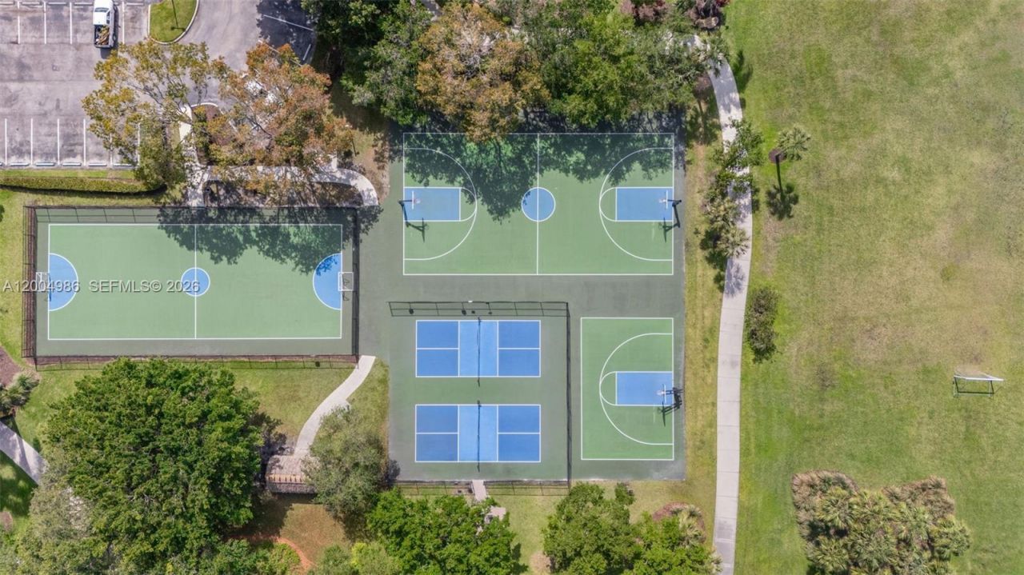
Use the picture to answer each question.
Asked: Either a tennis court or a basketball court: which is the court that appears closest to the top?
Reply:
basketball court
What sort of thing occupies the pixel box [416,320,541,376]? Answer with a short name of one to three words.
sports court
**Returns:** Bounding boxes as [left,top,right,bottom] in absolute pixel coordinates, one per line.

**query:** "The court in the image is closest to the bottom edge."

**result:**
[416,404,541,462]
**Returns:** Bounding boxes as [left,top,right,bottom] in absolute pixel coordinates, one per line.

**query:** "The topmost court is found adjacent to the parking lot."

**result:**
[403,133,673,274]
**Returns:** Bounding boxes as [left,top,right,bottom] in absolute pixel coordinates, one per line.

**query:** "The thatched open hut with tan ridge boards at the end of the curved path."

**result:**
[262,452,325,497]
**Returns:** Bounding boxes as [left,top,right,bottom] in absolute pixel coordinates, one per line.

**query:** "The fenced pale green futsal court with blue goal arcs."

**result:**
[48,224,342,339]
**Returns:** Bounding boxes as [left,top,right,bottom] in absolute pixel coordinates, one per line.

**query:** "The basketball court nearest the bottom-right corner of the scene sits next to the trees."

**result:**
[581,317,674,459]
